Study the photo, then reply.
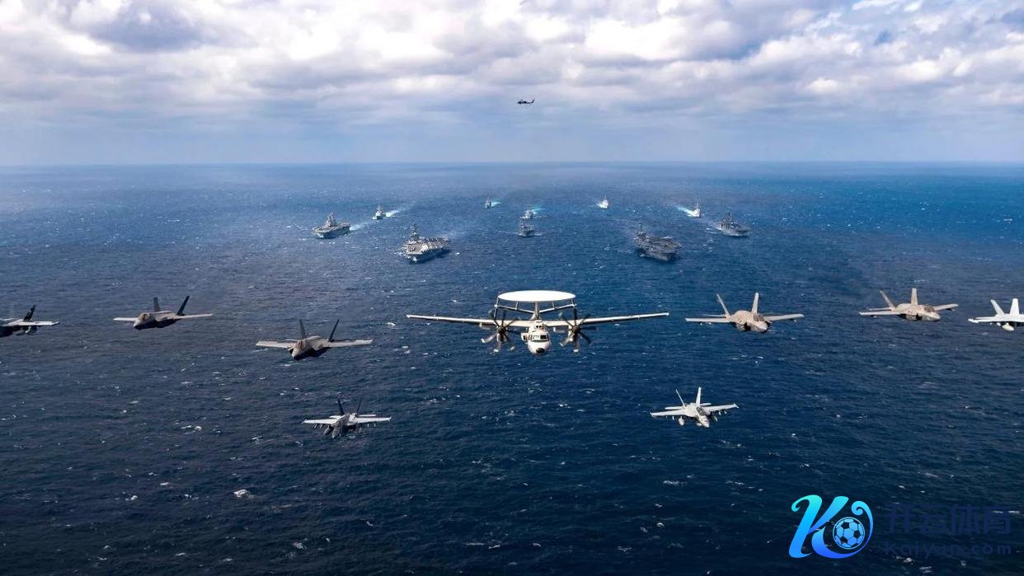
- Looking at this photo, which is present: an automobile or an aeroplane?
aeroplane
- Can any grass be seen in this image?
No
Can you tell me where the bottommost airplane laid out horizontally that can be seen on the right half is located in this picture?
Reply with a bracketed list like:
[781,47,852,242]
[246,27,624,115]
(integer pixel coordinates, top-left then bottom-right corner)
[650,387,738,428]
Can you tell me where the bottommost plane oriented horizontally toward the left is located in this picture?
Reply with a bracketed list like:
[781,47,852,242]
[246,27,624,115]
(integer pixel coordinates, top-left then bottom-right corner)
[305,399,393,440]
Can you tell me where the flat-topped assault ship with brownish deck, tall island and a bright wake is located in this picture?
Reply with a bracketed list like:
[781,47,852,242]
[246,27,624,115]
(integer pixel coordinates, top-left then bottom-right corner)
[315,214,350,238]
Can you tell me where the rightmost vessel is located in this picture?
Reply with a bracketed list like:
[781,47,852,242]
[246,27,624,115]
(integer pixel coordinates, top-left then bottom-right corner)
[715,212,754,236]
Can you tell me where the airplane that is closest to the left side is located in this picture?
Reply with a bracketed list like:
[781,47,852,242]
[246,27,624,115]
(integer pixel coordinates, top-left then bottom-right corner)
[0,302,58,336]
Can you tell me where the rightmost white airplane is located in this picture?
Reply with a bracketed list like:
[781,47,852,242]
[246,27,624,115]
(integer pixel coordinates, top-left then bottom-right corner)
[967,295,1024,331]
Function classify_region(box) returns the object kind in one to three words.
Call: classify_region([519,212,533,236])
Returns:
ship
